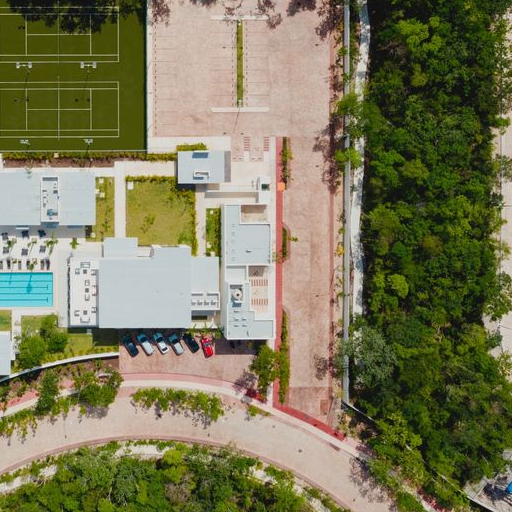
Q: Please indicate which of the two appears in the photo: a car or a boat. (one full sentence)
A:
I can see a car in this picture.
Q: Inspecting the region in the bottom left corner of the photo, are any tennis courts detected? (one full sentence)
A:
No, I can find no tennis court in the bottom left corner of the photo.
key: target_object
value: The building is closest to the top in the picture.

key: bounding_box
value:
[177,151,231,184]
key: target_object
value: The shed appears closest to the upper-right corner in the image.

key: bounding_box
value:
[255,177,270,203]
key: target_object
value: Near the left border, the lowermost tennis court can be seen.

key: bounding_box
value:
[0,72,146,153]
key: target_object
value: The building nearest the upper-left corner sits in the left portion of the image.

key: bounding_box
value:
[0,172,94,228]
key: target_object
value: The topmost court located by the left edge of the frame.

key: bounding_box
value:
[0,0,146,72]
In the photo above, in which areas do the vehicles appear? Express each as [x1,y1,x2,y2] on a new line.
[135,331,155,355]
[181,331,201,355]
[199,335,215,356]
[151,331,170,355]
[121,333,140,357]
[166,331,185,356]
